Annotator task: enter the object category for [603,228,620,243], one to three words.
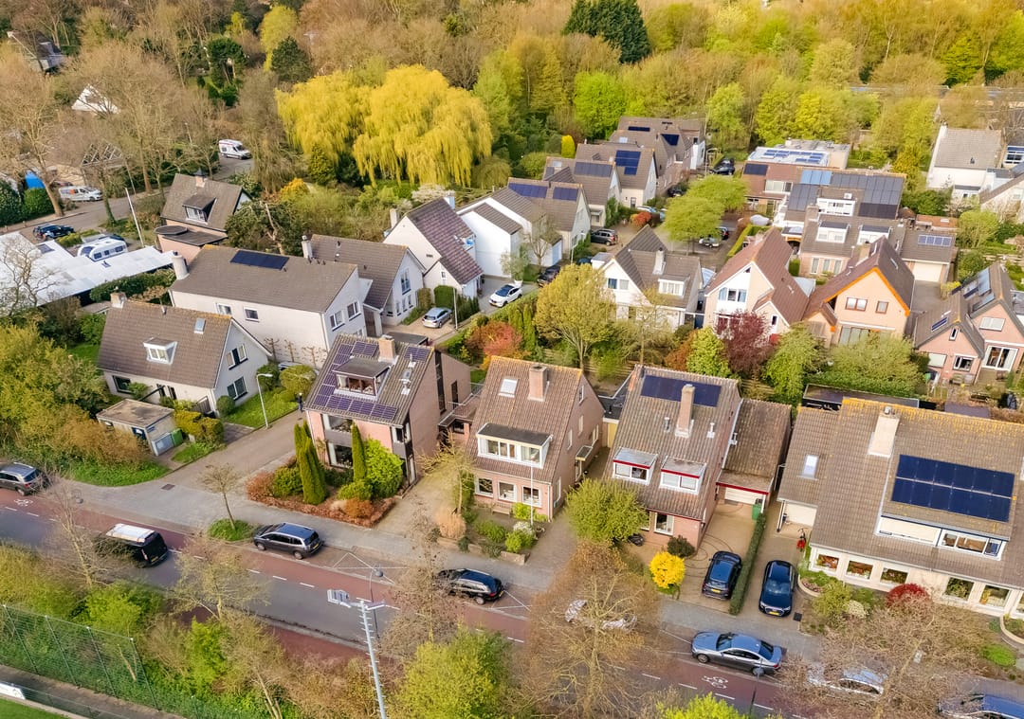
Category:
car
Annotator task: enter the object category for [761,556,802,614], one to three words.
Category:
car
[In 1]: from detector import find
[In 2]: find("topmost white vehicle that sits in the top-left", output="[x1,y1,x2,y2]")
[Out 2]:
[221,139,246,158]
